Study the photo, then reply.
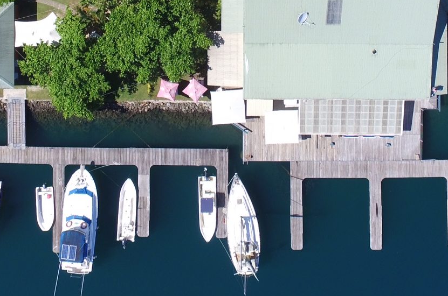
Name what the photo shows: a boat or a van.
boat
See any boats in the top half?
No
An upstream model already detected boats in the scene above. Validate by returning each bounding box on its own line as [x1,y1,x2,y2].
[54,164,98,295]
[198,169,217,243]
[117,178,138,250]
[35,182,55,231]
[224,172,259,296]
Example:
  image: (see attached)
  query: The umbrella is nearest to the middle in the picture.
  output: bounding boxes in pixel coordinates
[210,89,245,125]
